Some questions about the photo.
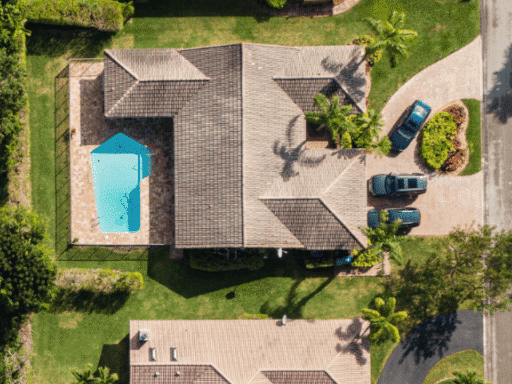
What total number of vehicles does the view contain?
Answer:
three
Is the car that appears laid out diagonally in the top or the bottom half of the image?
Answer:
top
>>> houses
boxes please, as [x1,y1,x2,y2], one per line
[104,41,368,250]
[129,318,370,384]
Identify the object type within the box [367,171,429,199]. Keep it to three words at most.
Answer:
car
